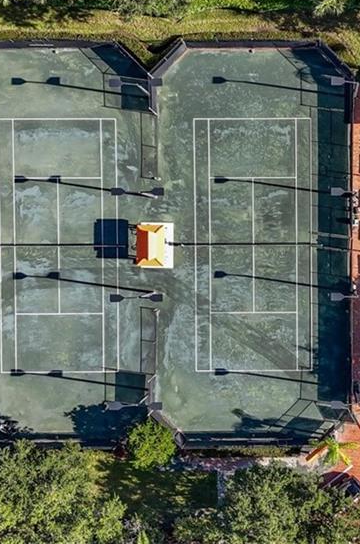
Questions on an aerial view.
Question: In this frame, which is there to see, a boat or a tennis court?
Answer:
tennis court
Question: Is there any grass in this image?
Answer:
Yes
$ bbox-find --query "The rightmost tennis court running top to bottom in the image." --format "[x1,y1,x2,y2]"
[158,47,351,437]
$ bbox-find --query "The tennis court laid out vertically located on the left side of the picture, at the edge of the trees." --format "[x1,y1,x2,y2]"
[0,48,157,436]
